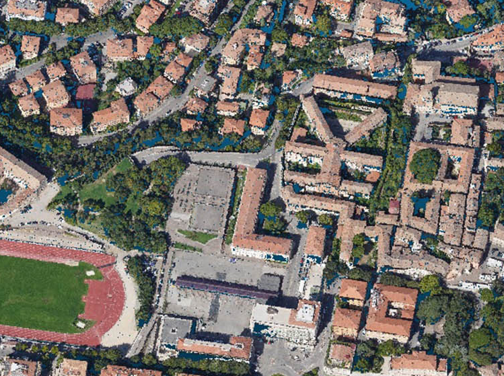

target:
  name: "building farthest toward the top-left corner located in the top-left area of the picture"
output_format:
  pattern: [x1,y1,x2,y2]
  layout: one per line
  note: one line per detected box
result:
[5,0,47,21]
